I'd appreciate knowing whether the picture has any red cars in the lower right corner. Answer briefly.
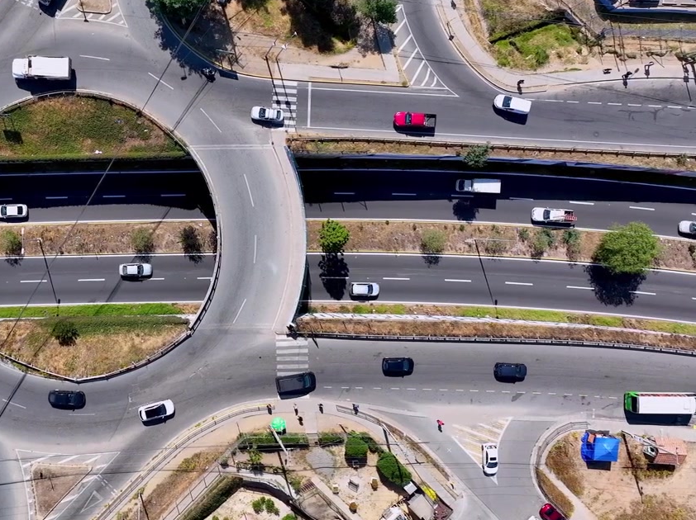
Yes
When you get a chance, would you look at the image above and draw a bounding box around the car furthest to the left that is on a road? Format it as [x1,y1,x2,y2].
[0,204,29,220]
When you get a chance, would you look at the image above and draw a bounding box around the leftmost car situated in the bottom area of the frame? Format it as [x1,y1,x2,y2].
[50,390,86,408]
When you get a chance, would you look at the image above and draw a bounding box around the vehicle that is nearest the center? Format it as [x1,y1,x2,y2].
[348,283,378,298]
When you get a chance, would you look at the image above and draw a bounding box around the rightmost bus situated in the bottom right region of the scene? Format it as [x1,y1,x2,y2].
[616,391,696,416]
